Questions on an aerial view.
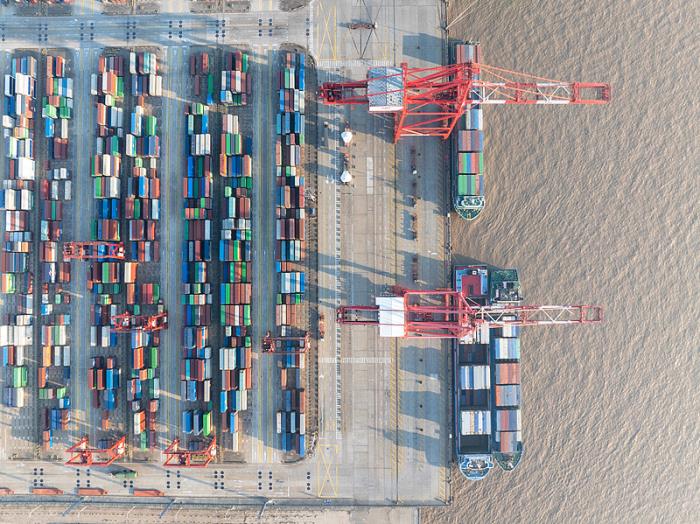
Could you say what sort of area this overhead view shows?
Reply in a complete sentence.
What you see here is a port.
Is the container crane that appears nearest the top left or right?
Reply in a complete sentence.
It is on the right.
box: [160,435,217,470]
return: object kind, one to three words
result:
container crane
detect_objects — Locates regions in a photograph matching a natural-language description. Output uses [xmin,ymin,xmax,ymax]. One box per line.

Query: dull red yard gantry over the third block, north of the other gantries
[65,240,129,263]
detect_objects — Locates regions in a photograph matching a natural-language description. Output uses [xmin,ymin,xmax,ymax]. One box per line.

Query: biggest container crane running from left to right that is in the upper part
[319,60,612,151]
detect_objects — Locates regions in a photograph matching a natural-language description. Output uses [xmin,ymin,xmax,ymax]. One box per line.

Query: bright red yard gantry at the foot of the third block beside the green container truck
[62,434,126,469]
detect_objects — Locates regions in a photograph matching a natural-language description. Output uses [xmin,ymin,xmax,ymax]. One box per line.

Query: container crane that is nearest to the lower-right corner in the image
[336,280,604,342]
